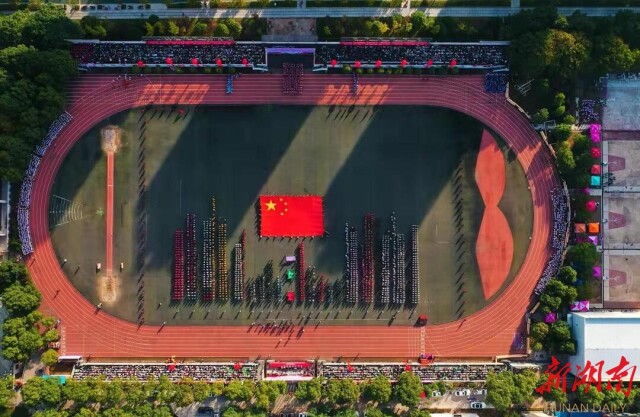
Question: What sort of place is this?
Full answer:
It's a sports ground.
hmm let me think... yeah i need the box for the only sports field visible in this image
[50,104,531,324]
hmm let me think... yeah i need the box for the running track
[16,71,564,358]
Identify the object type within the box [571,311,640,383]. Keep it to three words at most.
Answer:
building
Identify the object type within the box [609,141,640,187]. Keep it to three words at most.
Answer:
basketball court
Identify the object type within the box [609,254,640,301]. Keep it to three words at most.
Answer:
basketball court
